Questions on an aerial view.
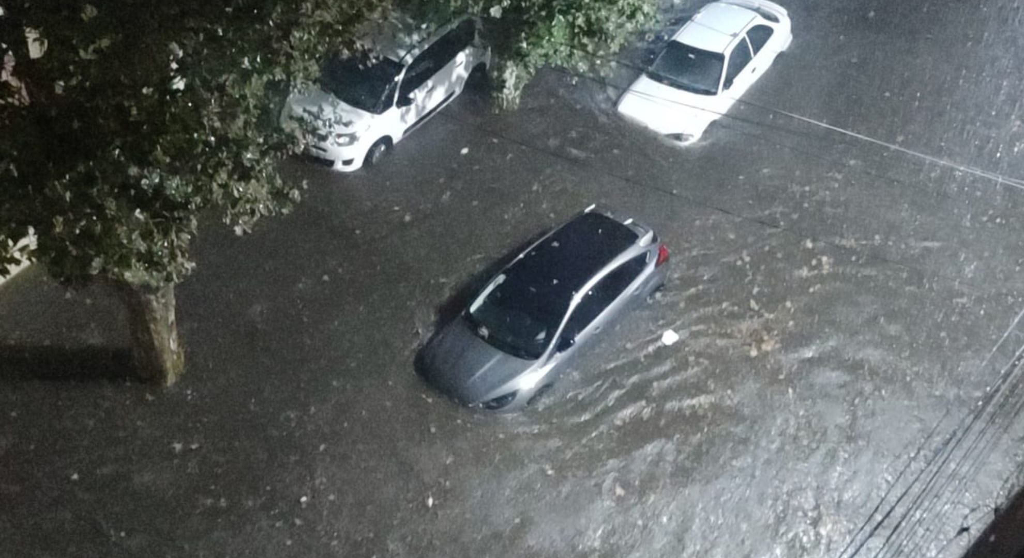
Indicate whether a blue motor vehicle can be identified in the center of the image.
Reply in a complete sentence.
No, there is no blue motor vehicle in the center of the image.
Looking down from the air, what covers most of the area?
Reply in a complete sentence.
The scene is dominated by water.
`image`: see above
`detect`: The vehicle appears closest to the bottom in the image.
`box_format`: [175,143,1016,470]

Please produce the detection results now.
[418,205,664,413]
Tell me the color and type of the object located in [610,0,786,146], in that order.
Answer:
white car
